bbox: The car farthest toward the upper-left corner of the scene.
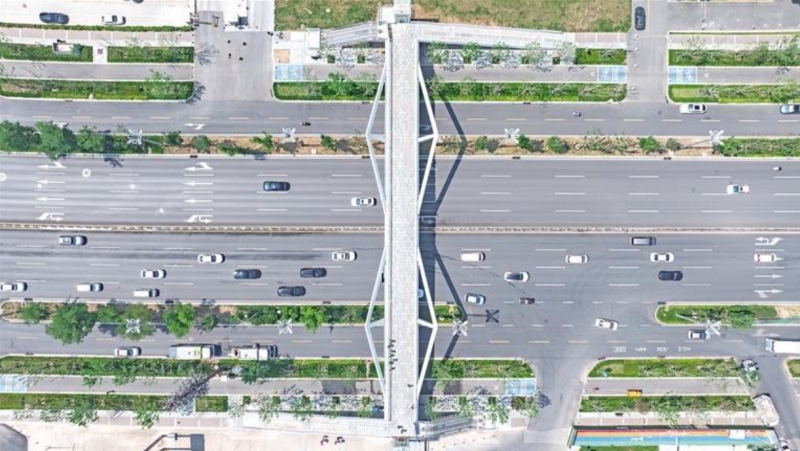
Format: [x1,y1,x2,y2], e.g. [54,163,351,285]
[41,10,68,23]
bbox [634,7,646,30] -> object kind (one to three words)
vehicle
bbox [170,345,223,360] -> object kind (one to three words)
vehicle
